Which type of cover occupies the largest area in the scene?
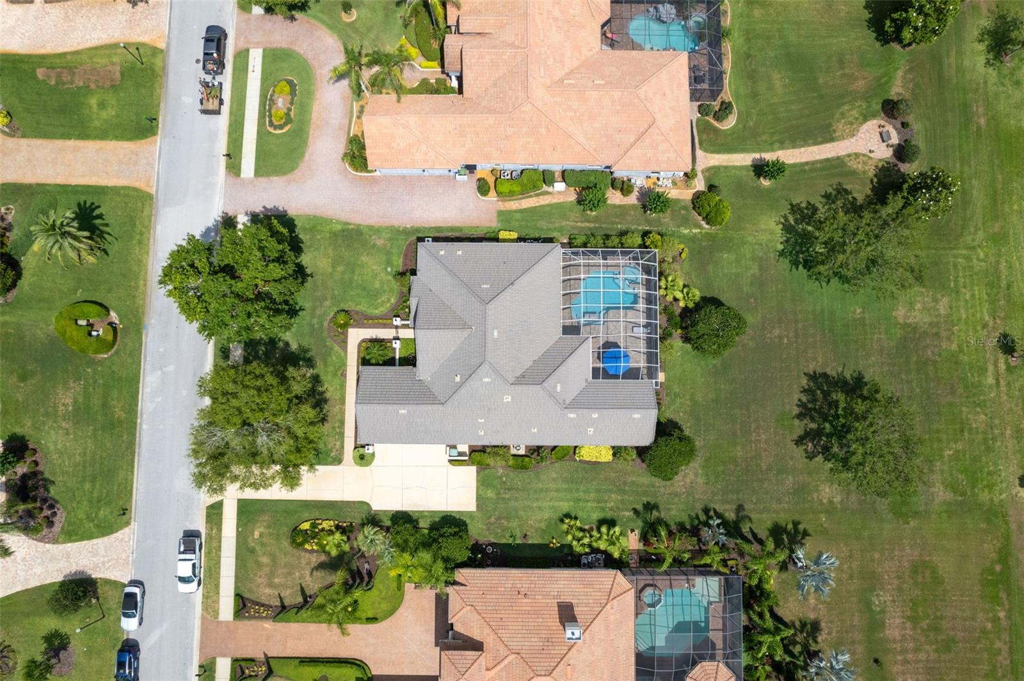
grass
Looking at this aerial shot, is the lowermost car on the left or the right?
left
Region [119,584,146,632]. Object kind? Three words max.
car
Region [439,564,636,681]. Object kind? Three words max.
house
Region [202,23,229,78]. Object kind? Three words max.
truck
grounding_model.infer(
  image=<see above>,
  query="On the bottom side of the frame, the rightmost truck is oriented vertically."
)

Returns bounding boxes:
[175,534,204,592]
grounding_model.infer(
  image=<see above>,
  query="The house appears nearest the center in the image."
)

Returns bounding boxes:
[355,241,658,446]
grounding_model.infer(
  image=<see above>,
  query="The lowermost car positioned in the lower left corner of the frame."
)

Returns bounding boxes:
[112,645,140,681]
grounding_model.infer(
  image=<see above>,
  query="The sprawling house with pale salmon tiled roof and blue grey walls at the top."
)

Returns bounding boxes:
[362,0,692,177]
